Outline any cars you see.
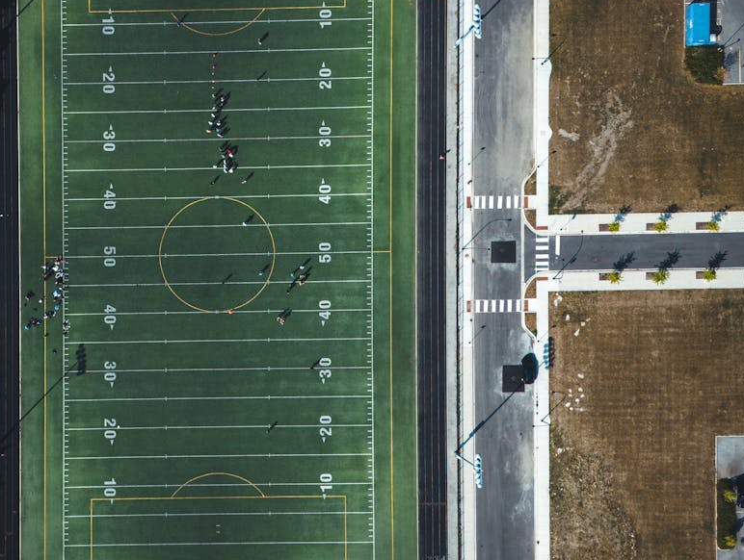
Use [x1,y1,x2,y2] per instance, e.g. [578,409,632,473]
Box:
[522,360,536,387]
[735,476,744,507]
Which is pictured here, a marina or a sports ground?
sports ground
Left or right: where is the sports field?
left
